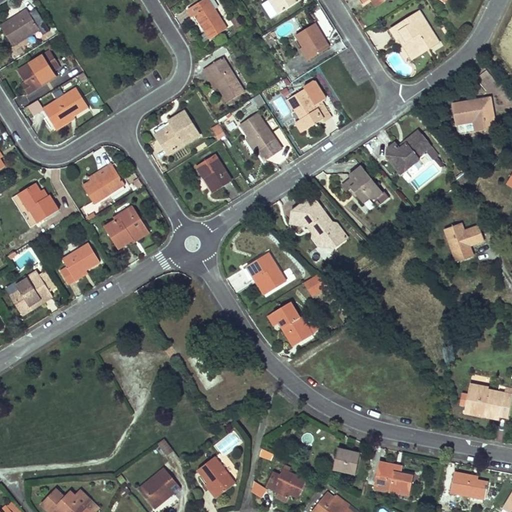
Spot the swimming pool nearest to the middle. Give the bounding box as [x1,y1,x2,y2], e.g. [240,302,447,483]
[268,94,294,124]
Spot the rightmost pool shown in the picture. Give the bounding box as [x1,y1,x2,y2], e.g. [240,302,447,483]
[402,154,444,192]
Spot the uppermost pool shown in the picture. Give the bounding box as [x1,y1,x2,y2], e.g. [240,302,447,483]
[274,18,300,40]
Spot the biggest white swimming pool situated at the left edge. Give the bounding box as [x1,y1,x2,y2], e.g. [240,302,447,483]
[13,248,42,272]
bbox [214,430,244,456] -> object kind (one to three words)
swimming pool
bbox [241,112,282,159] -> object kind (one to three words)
house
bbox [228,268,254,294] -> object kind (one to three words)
building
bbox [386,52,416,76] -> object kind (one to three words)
swimming pool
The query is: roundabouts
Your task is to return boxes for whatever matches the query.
[168,218,218,272]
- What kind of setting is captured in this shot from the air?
residential area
